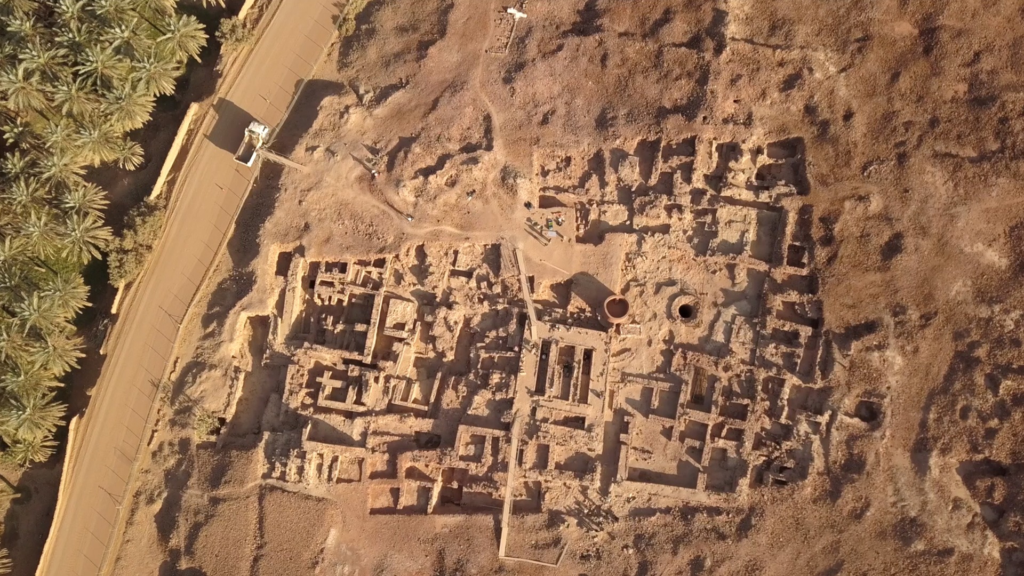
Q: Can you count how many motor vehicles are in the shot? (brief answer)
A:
1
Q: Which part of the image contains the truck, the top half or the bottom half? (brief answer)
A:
top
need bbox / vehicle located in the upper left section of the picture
[229,121,267,165]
